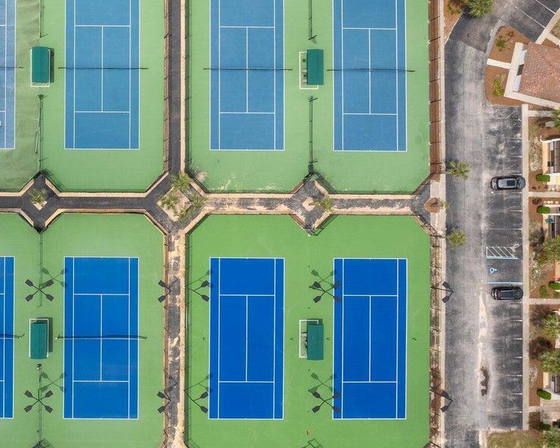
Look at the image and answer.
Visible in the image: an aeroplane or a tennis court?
tennis court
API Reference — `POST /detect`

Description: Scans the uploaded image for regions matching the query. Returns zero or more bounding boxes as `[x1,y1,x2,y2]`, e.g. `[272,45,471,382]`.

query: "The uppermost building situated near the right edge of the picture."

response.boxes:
[511,42,560,106]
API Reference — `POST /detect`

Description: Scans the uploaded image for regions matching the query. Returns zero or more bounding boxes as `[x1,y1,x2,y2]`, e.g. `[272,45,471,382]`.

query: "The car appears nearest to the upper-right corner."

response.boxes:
[490,175,524,190]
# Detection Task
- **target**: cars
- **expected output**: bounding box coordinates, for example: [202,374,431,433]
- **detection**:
[490,175,524,190]
[490,285,523,301]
